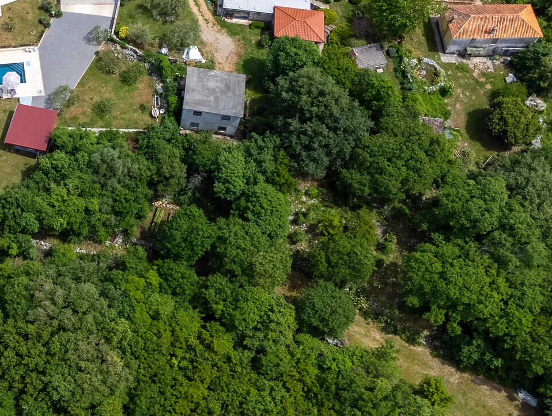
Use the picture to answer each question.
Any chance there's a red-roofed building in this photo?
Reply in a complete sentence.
Yes, looking at the shot, I can spot a red-roofed building.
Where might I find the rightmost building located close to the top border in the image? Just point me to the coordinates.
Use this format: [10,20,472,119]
[430,3,544,65]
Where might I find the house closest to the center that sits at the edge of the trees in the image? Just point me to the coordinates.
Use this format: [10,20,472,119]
[180,67,245,141]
